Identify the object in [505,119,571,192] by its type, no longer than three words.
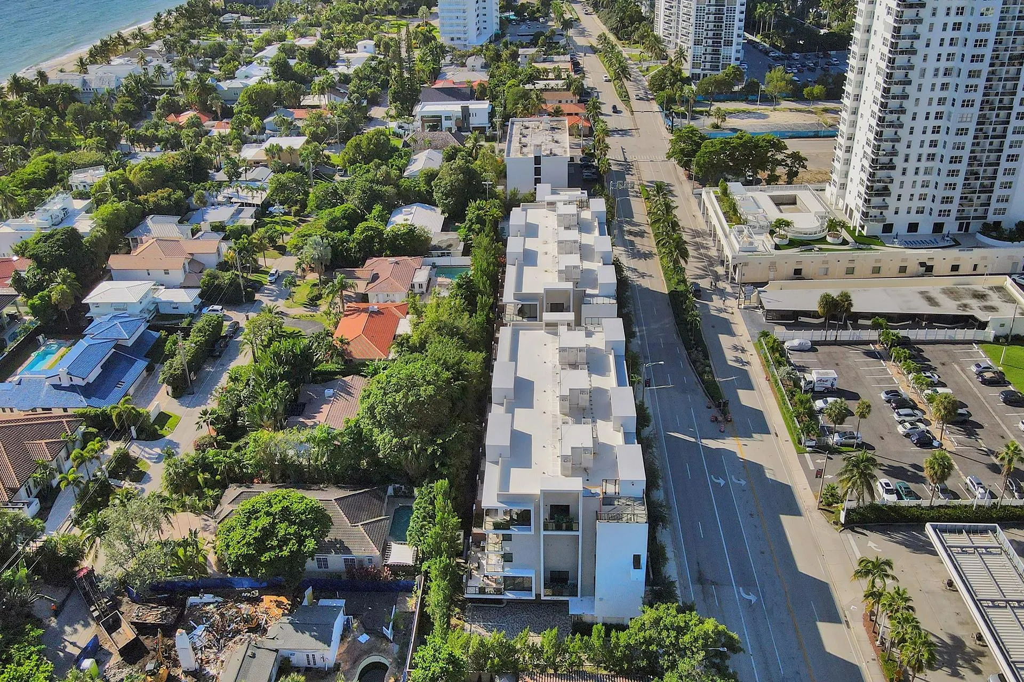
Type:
building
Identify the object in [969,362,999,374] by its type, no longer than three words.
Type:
vehicle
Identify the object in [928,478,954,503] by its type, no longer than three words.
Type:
car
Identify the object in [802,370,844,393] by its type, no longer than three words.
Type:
truck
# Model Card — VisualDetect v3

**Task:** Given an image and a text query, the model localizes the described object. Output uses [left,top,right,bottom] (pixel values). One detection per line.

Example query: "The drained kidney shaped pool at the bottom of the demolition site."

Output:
[352,653,396,682]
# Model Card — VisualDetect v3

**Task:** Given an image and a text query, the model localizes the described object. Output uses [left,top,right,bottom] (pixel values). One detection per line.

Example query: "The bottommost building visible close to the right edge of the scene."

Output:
[756,276,1024,334]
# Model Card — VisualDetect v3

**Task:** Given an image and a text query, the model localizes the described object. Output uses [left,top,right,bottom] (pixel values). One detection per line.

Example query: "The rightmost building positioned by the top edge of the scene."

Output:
[822,0,1024,236]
